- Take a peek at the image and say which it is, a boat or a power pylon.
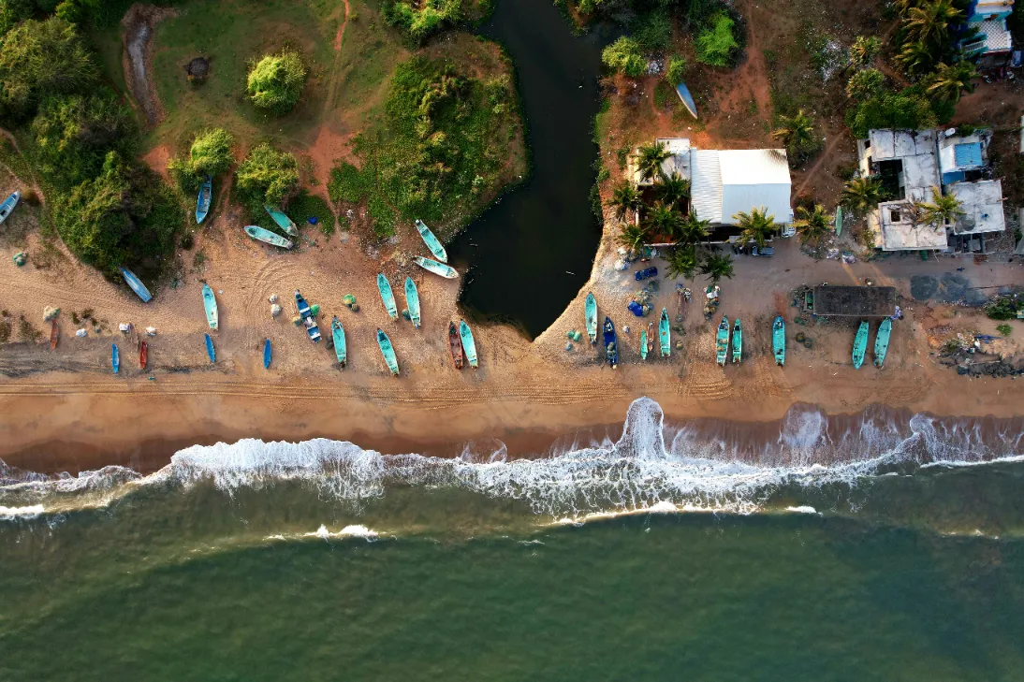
boat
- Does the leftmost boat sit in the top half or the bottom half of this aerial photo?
top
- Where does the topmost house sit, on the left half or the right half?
right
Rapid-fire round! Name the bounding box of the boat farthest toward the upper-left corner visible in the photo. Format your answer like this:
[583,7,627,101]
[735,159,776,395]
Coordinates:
[0,190,21,230]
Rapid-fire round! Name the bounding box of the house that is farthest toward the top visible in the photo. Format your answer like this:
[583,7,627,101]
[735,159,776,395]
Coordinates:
[957,0,1016,72]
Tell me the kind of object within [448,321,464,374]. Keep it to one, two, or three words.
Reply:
boat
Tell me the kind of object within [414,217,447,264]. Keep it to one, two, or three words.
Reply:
boat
